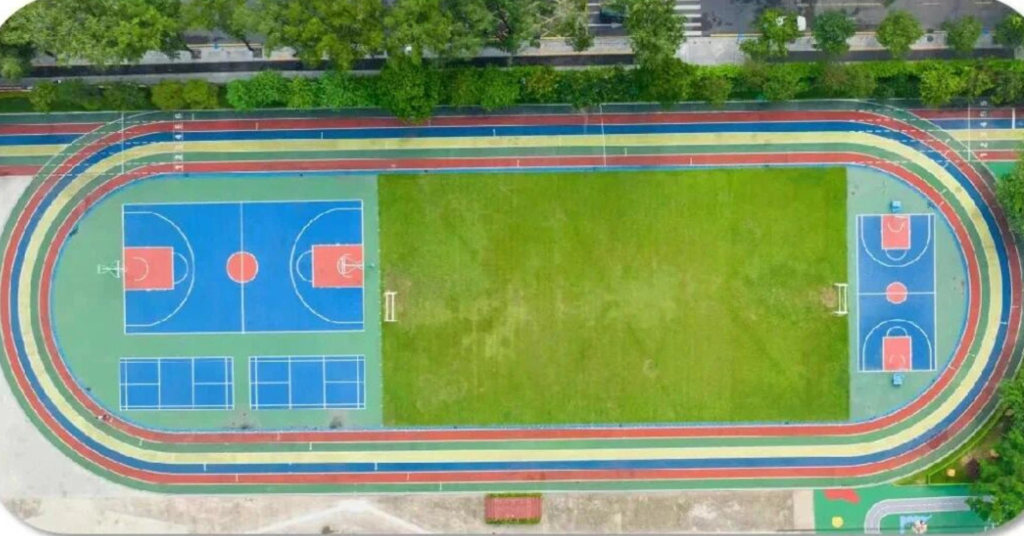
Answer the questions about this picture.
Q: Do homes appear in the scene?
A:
No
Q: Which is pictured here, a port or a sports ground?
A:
sports ground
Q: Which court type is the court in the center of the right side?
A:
basketball court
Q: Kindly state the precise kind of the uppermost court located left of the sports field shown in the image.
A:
basketball court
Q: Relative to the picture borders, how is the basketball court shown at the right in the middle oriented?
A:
up and down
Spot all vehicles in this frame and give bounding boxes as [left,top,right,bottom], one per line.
[599,3,630,24]
[794,16,804,33]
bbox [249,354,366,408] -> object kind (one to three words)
sports court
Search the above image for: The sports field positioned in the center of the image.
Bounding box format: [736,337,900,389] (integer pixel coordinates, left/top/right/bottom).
[377,167,849,424]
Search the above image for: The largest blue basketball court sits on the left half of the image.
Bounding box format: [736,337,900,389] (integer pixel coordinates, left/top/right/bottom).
[122,200,365,335]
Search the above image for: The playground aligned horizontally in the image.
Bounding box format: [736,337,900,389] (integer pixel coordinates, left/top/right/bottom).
[813,477,1024,536]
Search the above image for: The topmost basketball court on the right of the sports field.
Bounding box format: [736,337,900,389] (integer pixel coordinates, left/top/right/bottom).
[856,213,936,372]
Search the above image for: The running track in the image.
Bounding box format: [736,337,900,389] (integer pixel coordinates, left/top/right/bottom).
[0,98,1024,494]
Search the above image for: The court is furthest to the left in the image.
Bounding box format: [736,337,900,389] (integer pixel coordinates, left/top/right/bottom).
[119,356,234,410]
